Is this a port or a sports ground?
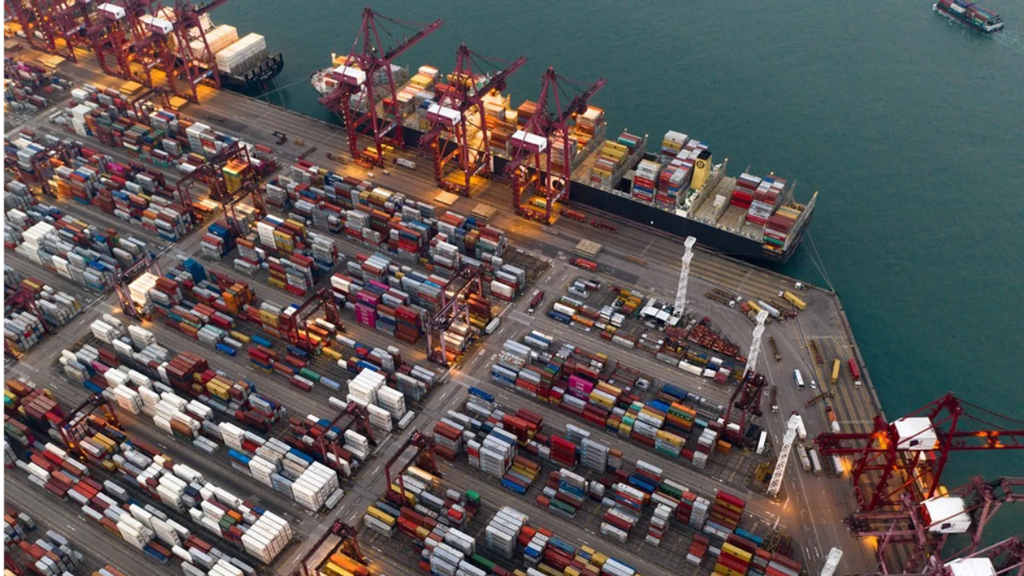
port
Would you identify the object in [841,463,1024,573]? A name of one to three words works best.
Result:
container crane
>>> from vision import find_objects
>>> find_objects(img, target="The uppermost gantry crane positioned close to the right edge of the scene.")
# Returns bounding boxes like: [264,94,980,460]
[814,382,1024,516]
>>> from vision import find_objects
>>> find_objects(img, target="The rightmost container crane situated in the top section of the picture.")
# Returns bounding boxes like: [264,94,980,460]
[492,60,605,225]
